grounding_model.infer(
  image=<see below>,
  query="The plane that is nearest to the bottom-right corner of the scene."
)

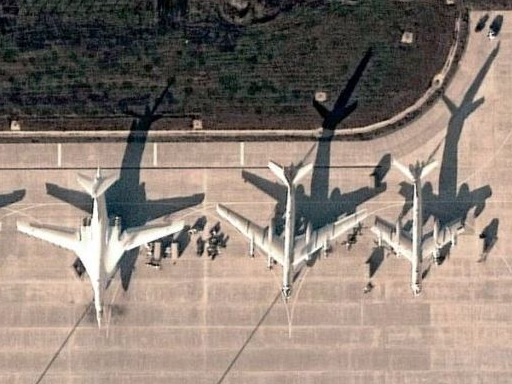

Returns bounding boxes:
[370,155,462,299]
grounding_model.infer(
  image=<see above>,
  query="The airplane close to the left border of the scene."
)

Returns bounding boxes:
[19,167,180,329]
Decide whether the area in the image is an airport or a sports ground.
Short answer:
airport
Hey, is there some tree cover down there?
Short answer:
No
